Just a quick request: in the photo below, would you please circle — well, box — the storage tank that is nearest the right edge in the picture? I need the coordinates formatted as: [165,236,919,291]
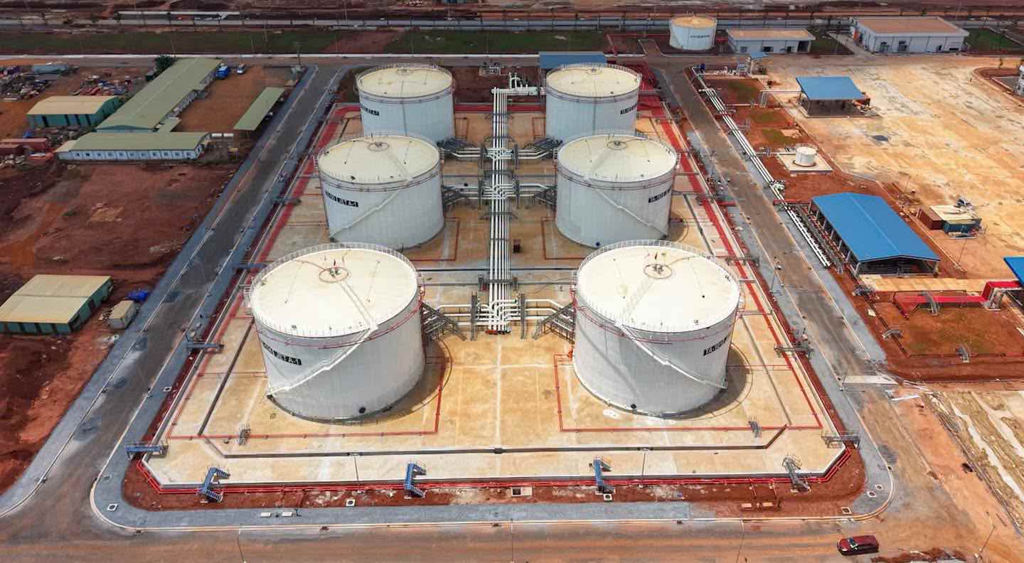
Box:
[776,139,833,171]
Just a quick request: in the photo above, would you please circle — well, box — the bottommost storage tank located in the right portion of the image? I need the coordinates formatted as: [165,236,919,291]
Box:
[570,240,753,420]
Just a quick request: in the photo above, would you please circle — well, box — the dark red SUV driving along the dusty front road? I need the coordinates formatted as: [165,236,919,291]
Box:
[839,534,884,557]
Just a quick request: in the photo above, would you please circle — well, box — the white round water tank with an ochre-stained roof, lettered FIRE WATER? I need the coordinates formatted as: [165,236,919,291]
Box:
[670,13,722,51]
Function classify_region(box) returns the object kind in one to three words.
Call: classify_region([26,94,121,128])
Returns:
shed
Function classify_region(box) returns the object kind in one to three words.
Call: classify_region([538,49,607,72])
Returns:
building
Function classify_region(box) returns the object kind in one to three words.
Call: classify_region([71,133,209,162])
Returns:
building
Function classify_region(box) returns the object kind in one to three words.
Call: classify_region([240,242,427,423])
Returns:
storage tank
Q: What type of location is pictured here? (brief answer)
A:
industrial area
